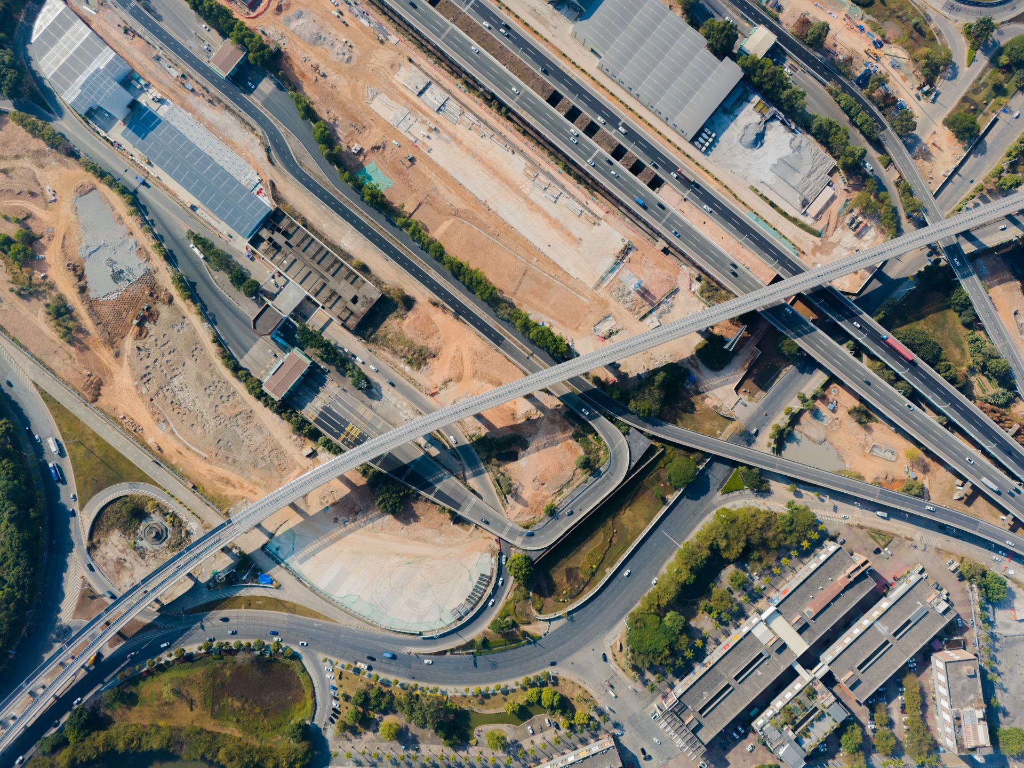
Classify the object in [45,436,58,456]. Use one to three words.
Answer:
vehicle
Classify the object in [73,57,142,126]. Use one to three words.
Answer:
building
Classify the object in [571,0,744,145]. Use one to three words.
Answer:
warehouse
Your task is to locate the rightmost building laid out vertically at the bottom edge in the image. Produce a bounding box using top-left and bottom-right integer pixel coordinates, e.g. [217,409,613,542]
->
[927,648,994,756]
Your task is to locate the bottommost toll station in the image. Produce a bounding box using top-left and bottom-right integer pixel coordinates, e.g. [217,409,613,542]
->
[262,347,319,403]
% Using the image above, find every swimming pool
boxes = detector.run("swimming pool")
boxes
[813,408,829,422]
